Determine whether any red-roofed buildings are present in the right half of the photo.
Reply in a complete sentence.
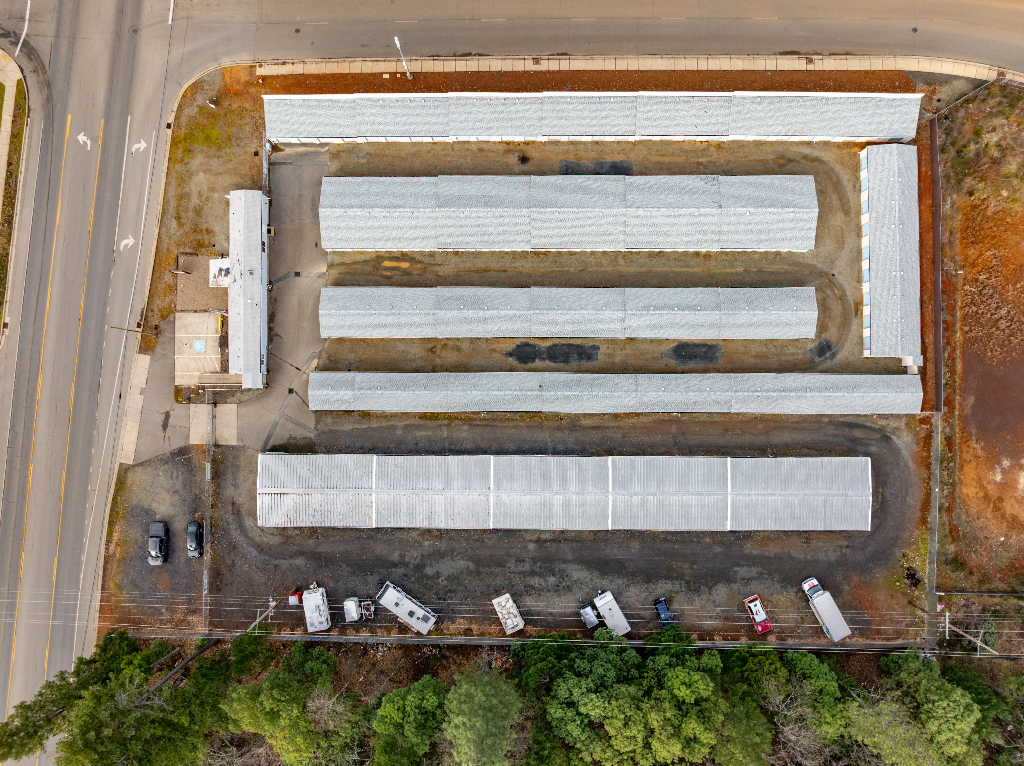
No, looking in the right half of the photo, there is no red-roofed building.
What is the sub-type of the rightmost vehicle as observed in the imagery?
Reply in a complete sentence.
I'd say the rightmost vehicle is a truck.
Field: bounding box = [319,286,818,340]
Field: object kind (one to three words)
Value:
building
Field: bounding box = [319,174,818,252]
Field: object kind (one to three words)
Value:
building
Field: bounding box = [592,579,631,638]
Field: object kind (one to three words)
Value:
trailer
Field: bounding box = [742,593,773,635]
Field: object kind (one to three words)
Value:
car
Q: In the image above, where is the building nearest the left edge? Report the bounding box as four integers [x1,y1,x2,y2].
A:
[225,189,274,389]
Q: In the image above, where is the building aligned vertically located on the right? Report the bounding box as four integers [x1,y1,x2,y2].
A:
[859,143,922,366]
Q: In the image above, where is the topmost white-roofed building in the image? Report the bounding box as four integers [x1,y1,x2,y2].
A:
[262,91,924,145]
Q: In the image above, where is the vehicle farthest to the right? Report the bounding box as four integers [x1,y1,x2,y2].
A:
[800,576,851,642]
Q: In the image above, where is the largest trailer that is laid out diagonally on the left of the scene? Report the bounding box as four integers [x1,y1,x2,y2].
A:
[376,579,439,635]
